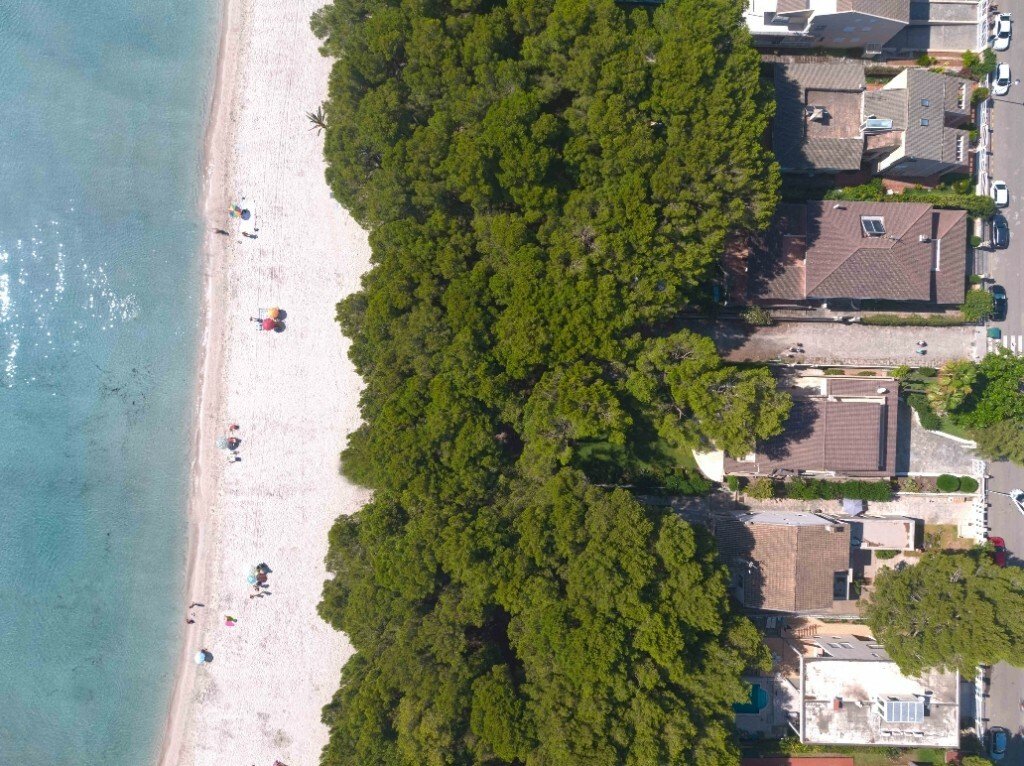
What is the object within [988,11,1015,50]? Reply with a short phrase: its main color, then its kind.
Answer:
white car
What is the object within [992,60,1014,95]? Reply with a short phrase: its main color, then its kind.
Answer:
white car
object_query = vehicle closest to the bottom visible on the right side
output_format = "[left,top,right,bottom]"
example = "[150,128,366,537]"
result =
[990,727,1012,761]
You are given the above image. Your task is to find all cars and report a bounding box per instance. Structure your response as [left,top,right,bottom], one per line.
[990,727,1012,761]
[989,285,1010,320]
[988,11,1015,50]
[992,179,1013,207]
[988,537,1010,570]
[991,213,1013,249]
[992,60,1014,95]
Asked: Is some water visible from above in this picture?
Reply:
Yes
